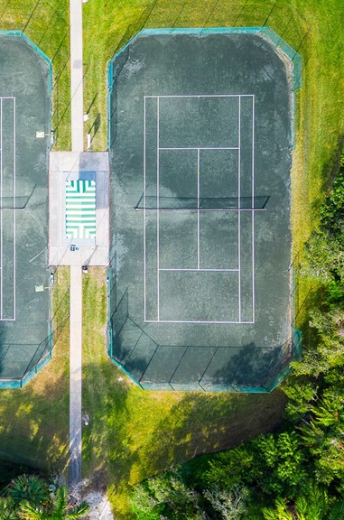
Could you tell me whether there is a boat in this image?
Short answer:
No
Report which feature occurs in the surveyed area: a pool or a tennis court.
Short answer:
tennis court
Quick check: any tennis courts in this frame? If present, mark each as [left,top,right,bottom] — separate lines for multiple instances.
[104,33,292,385]
[0,36,50,380]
